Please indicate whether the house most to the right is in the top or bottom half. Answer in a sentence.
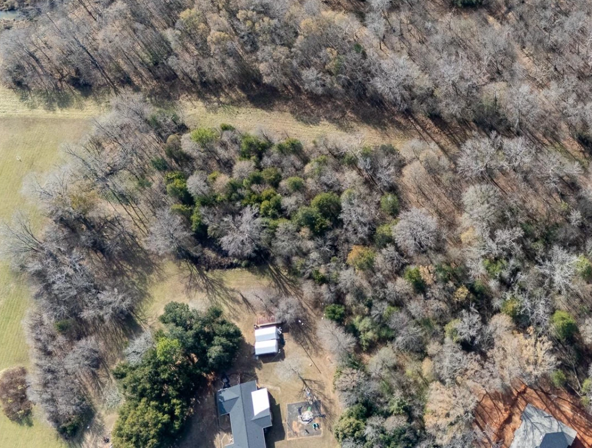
Seen from above, the house most to the right lies in the bottom half of the view.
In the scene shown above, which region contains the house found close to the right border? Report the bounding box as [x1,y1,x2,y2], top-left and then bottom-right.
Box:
[510,404,577,448]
